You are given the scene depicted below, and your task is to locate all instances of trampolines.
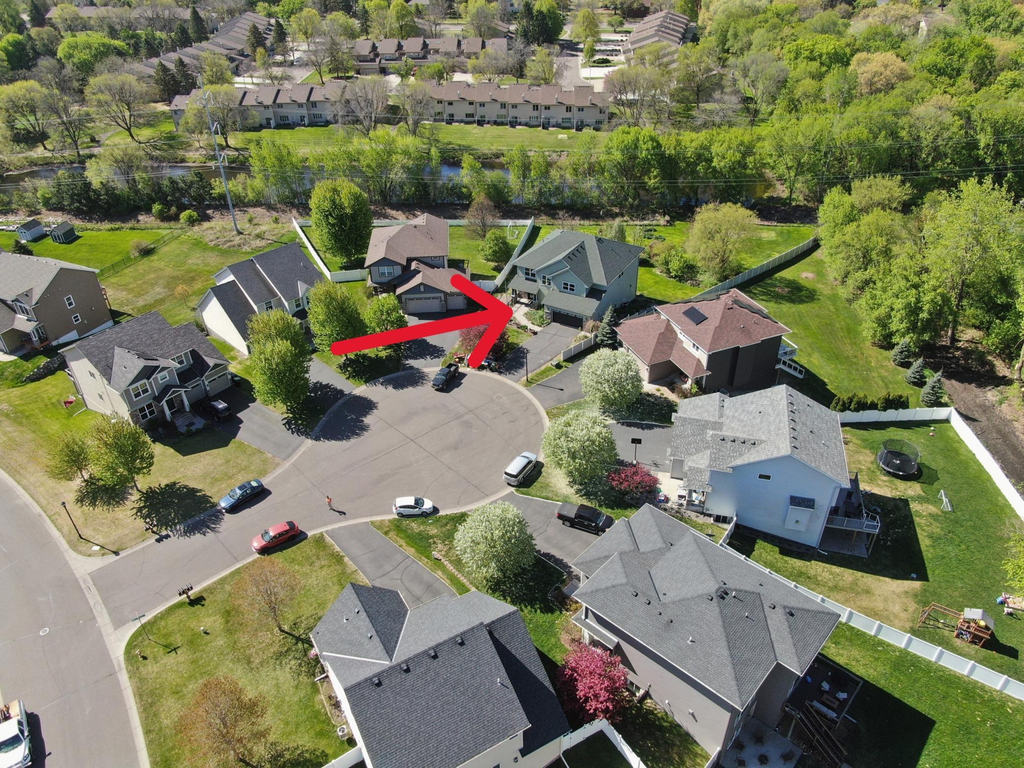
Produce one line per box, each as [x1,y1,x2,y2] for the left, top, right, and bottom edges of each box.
[882,441,928,484]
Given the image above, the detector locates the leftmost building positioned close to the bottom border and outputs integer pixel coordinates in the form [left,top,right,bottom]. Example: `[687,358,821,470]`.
[305,570,576,768]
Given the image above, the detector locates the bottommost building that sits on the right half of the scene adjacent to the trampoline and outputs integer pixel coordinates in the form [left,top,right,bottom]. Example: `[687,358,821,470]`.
[668,378,883,553]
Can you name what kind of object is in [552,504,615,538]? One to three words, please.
vehicle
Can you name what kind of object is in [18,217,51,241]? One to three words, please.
shed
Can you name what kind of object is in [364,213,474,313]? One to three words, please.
house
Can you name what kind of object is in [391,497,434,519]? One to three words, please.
car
